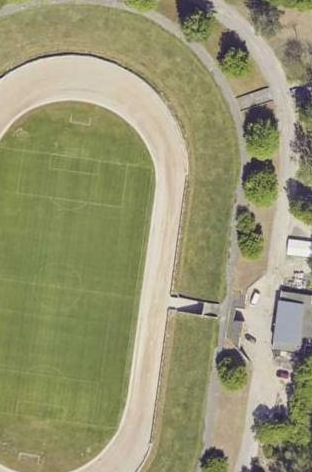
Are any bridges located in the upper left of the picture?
No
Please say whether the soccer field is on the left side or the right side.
left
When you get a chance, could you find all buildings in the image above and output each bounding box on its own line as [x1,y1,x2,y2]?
[286,237,312,257]
[271,290,312,362]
